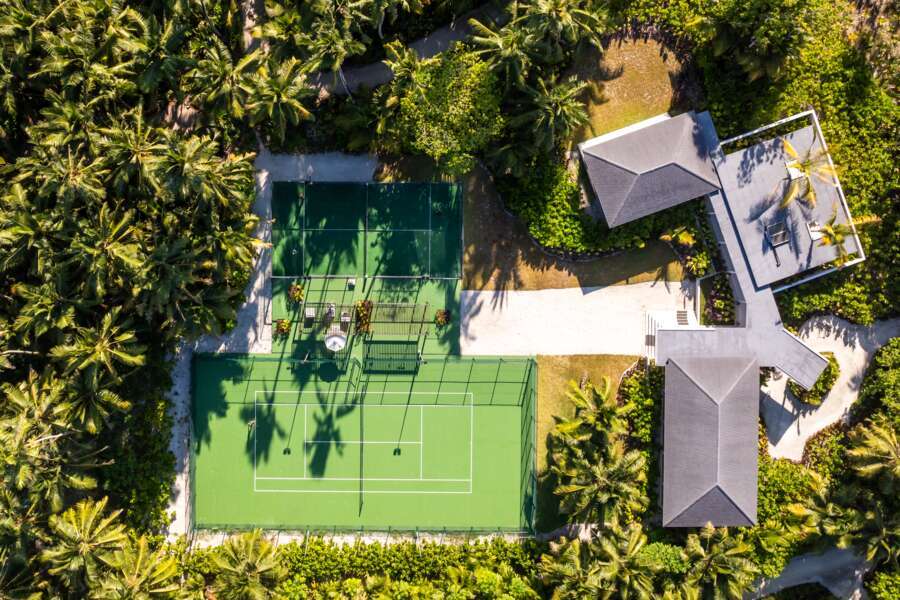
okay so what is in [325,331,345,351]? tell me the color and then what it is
white umbrella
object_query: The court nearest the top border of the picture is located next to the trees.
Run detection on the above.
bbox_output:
[266,178,461,278]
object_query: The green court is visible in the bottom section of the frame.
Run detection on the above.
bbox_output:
[192,353,538,531]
